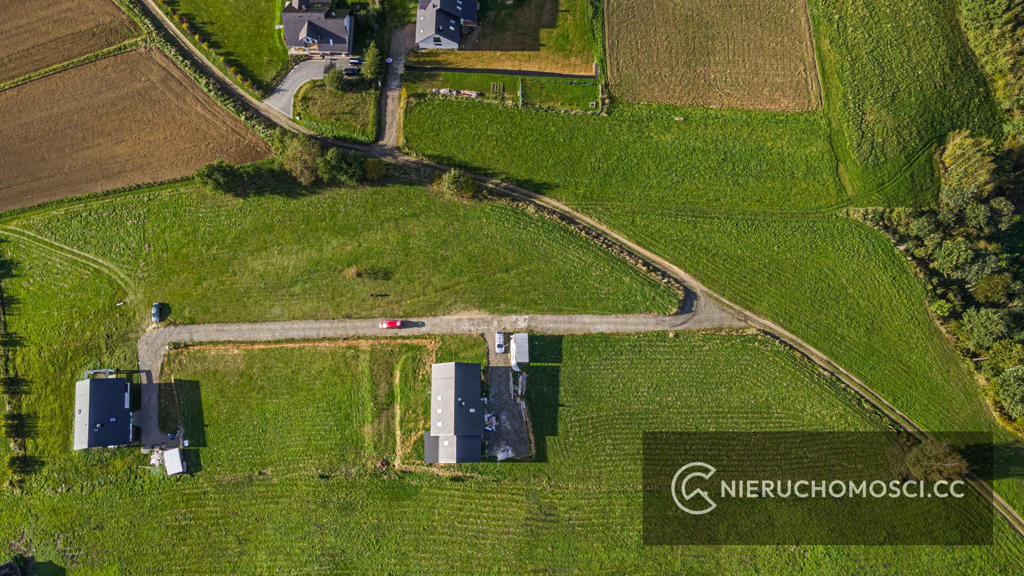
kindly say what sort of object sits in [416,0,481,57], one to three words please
house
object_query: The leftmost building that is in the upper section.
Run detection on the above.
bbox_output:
[280,0,360,67]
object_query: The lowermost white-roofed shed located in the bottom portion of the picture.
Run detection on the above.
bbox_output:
[164,448,188,475]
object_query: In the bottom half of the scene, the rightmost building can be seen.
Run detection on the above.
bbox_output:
[423,361,485,463]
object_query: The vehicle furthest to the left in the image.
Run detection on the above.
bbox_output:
[148,302,161,323]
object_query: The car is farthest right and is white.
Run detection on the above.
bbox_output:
[494,331,509,355]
